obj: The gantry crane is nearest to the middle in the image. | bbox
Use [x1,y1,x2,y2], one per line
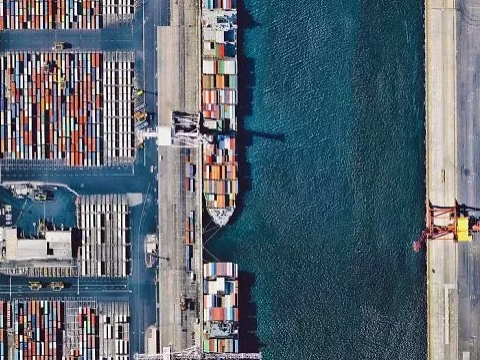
[140,113,208,152]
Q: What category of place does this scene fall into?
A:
port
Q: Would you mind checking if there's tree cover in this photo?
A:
No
